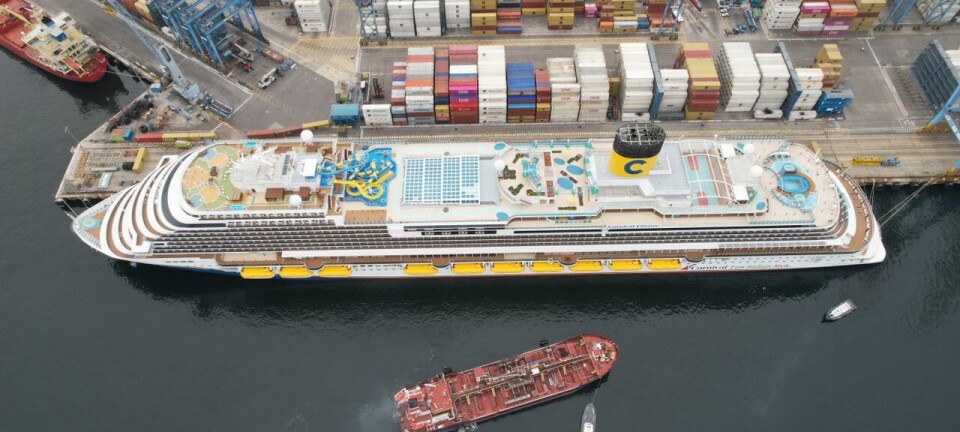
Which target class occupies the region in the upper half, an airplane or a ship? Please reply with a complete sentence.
Visible in the upper half is a ship.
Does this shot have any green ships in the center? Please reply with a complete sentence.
No, no green ship is visible in the center.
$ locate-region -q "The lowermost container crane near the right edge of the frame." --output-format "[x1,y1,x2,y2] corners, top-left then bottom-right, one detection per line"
[913,87,960,140]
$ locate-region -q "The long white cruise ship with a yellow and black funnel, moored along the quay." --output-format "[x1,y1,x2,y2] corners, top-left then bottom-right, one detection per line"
[69,120,894,279]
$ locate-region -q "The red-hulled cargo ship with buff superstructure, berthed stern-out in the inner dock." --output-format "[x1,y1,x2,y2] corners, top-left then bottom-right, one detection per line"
[0,0,112,78]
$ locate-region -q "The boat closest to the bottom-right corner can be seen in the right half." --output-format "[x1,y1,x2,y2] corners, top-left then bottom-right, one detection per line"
[824,300,858,320]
